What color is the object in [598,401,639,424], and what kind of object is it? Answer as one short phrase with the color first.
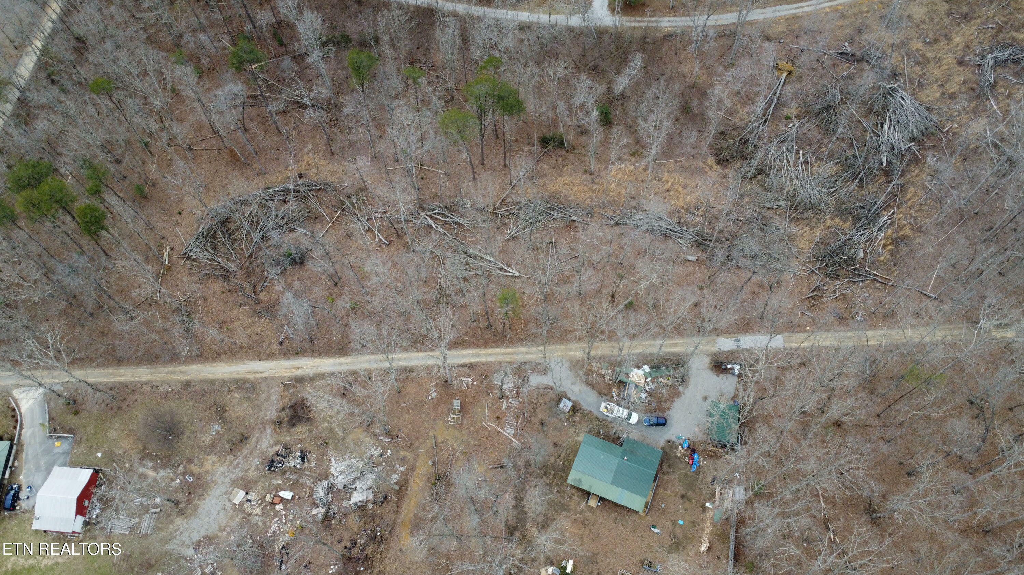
white truck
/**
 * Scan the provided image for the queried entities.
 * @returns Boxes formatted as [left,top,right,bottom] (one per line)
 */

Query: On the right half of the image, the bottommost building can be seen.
[567,434,662,517]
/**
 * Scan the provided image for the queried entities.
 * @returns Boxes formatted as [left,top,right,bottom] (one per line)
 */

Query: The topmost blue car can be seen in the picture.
[643,414,667,428]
